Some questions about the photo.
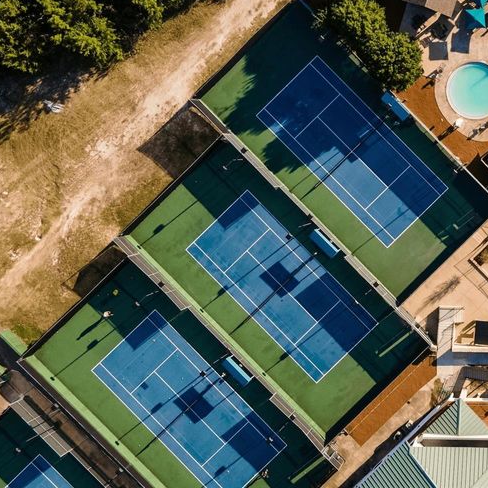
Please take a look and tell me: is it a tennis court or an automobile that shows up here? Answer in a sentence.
Visible in the photo is a tennis court.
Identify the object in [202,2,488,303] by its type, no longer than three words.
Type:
tennis court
